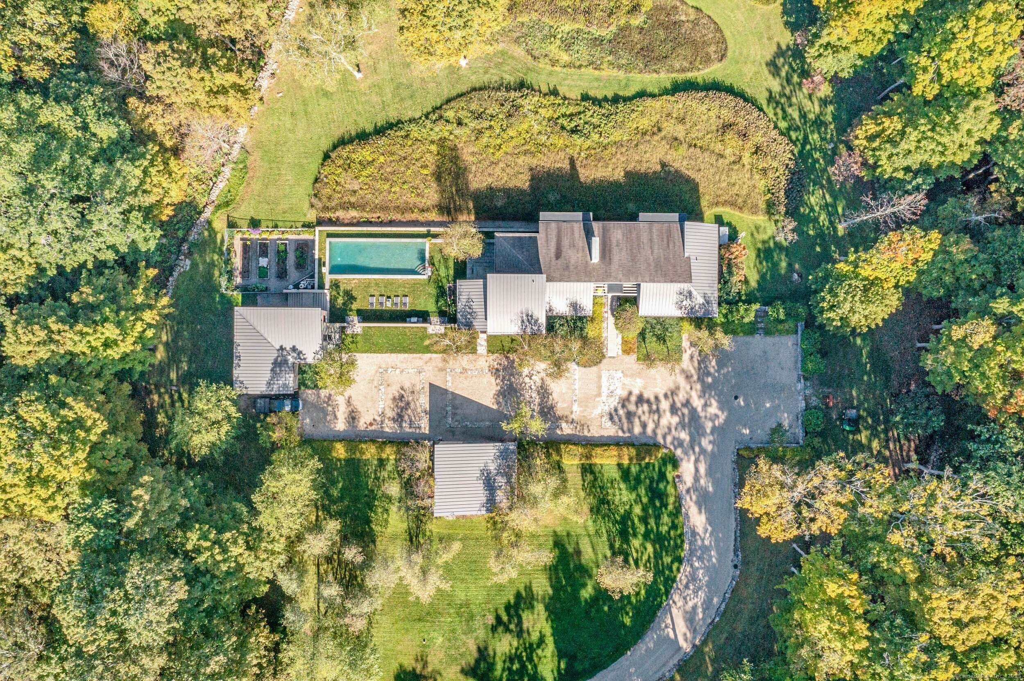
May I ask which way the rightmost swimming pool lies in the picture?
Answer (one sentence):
Seen from above, the rightmost swimming pool lies from side to side.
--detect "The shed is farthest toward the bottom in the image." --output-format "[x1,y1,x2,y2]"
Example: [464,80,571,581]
[434,436,517,518]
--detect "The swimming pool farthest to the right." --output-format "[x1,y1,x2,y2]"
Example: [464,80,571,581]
[326,238,429,278]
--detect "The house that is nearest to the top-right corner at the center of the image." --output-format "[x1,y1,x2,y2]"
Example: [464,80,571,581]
[456,212,718,336]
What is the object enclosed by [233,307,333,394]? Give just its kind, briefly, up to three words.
building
